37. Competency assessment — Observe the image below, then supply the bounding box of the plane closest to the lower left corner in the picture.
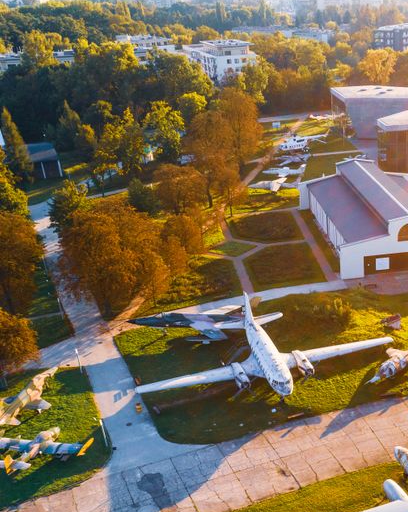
[0,429,87,477]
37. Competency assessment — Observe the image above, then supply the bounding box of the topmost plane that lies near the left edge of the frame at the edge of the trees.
[0,368,58,423]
